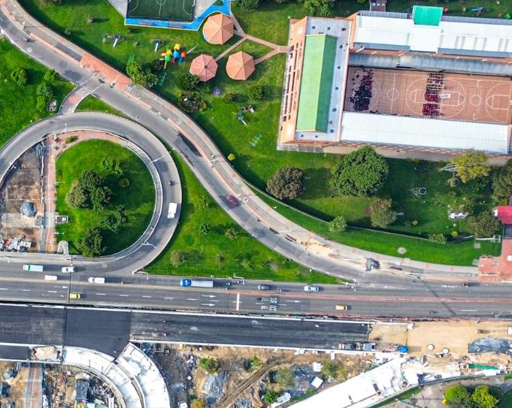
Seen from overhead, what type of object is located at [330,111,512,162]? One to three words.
building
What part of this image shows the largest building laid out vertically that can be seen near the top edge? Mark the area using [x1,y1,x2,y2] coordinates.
[281,16,352,147]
